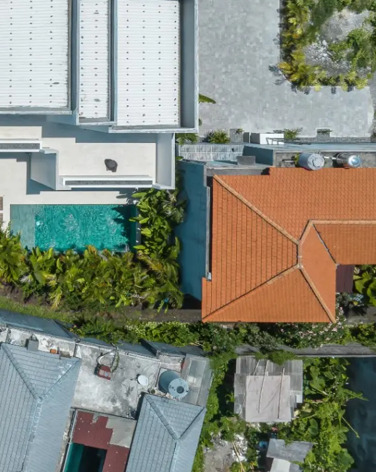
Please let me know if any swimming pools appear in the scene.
Yes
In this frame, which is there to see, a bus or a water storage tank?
water storage tank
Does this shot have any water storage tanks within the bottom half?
Yes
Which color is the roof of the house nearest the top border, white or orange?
orange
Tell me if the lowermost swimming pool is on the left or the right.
left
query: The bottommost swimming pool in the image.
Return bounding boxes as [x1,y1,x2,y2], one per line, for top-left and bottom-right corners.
[9,205,136,253]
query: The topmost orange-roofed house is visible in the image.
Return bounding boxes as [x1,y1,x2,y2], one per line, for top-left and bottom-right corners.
[182,166,376,324]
